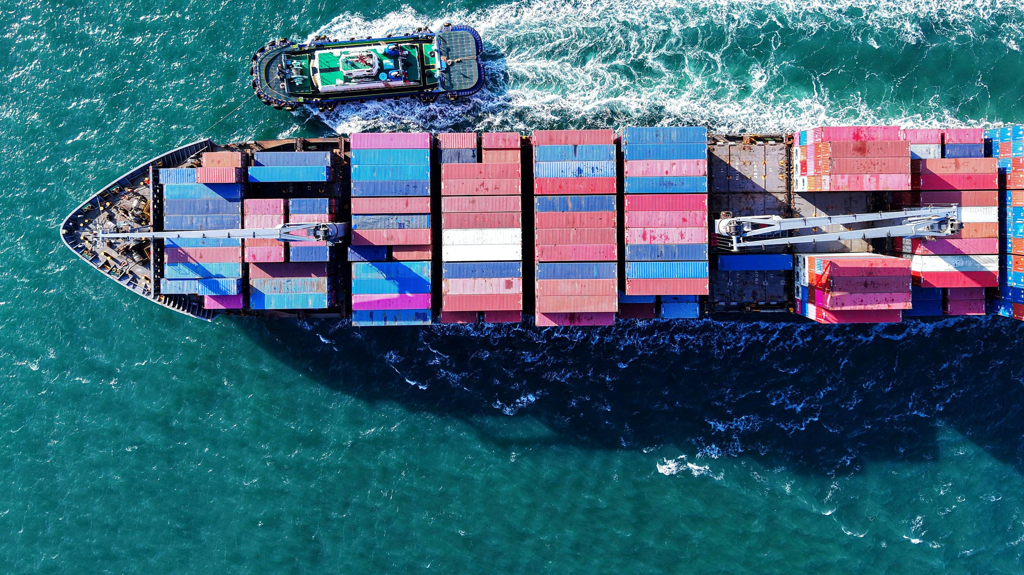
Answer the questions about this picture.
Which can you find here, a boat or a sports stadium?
boat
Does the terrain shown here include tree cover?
No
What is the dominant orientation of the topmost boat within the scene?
from side to side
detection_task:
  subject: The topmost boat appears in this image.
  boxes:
[249,24,484,110]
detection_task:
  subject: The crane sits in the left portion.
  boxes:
[97,215,354,247]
